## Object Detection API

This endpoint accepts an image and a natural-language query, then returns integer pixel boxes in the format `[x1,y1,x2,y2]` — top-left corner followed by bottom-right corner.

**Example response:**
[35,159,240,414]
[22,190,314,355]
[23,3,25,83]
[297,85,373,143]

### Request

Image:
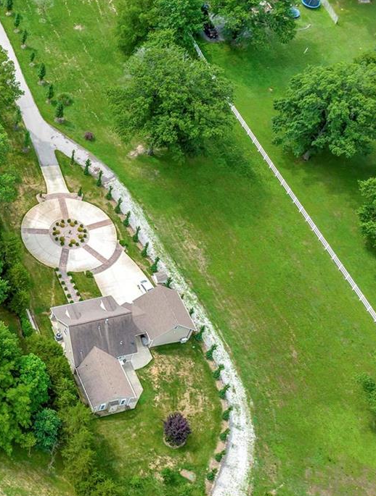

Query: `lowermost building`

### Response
[51,285,197,418]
